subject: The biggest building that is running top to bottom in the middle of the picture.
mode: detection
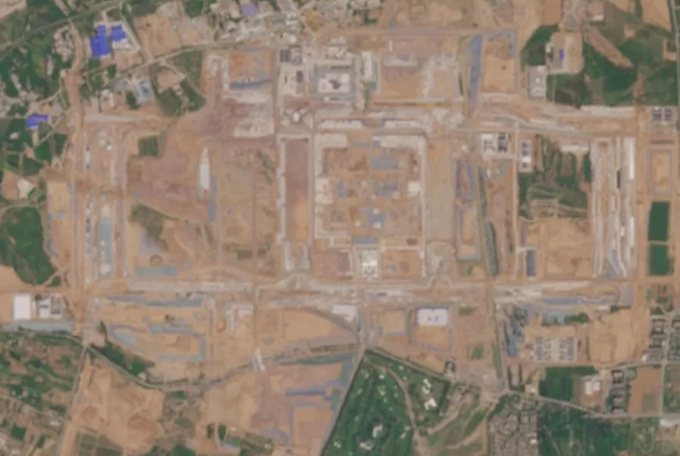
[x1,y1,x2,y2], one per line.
[373,135,427,274]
